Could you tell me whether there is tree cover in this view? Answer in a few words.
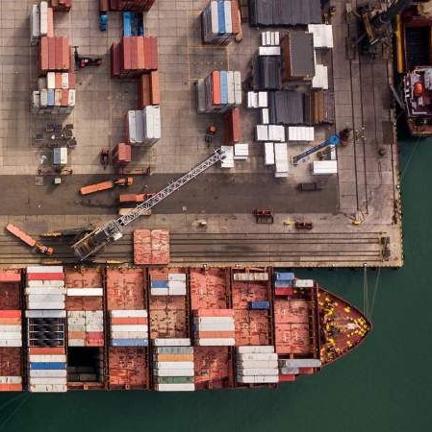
No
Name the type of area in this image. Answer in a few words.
port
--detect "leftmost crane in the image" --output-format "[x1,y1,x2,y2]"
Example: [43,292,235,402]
[43,145,230,266]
